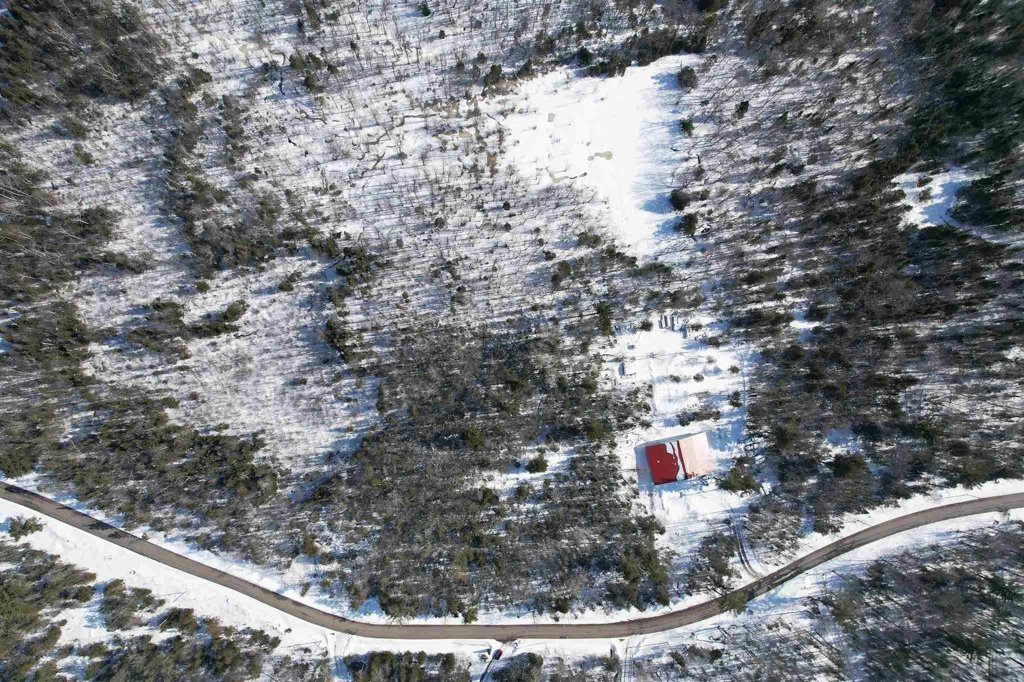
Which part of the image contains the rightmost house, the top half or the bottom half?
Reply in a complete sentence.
Seen from above, the rightmost house lies in the bottom half of the view.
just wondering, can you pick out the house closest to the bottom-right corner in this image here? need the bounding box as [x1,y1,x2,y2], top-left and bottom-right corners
[647,433,714,484]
